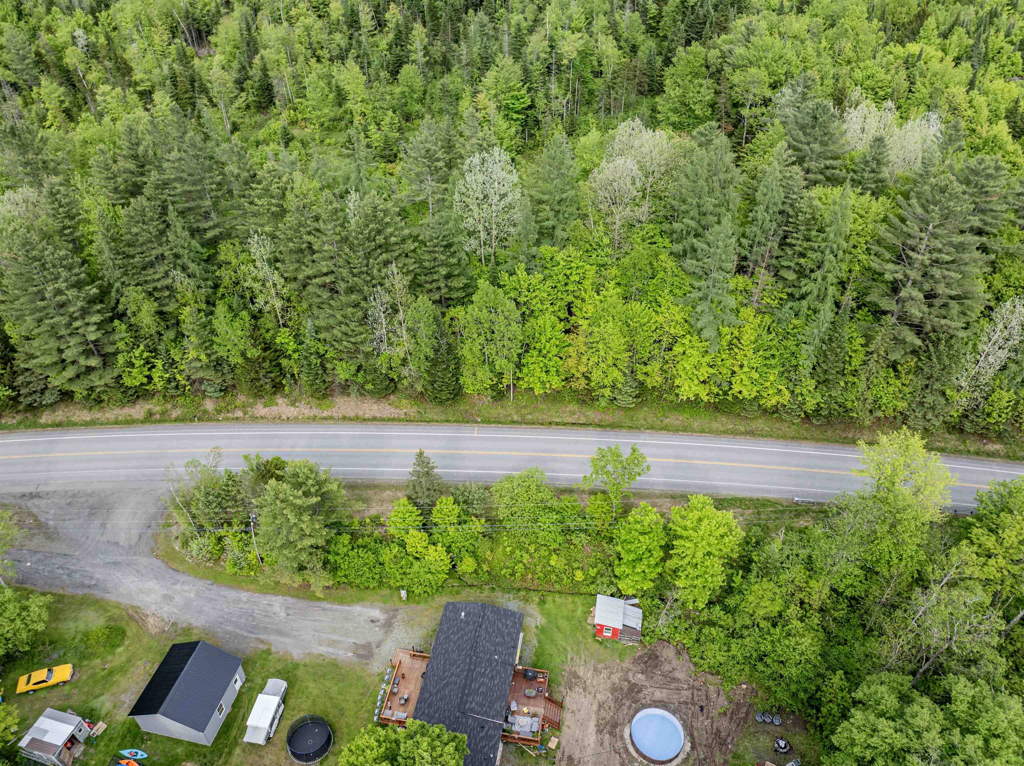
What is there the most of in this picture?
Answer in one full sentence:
The largest share of the image is taken up by trees.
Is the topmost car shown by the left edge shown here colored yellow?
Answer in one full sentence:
Yes, yellow is the color of the topmost car shown by the left edge.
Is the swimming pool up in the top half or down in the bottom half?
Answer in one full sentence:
You can find the swimming pool in the bottom half.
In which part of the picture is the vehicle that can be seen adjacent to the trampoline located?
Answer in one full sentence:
The vehicle that can be seen adjacent to the trampoline is in the bottom left part of the image.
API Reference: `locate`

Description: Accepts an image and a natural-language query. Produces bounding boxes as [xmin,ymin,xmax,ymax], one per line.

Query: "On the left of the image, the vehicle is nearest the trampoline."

[243,680,290,750]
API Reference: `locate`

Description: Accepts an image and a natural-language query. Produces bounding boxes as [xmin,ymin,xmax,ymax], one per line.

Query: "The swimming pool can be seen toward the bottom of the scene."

[629,707,685,766]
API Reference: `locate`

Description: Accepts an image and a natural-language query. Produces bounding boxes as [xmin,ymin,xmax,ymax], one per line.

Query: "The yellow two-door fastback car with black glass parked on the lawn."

[15,665,76,695]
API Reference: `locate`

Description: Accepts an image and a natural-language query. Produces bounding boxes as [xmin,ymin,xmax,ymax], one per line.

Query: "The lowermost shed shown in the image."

[21,708,88,766]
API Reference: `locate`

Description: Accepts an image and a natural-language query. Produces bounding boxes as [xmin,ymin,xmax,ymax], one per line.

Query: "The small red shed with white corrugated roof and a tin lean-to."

[595,595,644,650]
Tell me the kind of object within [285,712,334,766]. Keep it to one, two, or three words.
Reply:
trampoline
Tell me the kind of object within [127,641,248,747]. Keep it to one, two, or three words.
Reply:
building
